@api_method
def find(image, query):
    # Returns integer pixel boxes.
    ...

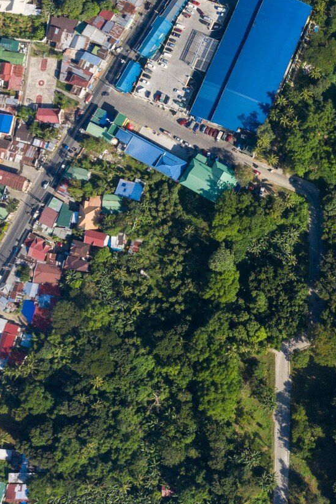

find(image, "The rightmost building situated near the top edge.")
[191,0,314,131]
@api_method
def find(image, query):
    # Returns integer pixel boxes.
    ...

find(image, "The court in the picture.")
[21,58,57,104]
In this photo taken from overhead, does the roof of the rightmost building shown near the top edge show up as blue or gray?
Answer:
blue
